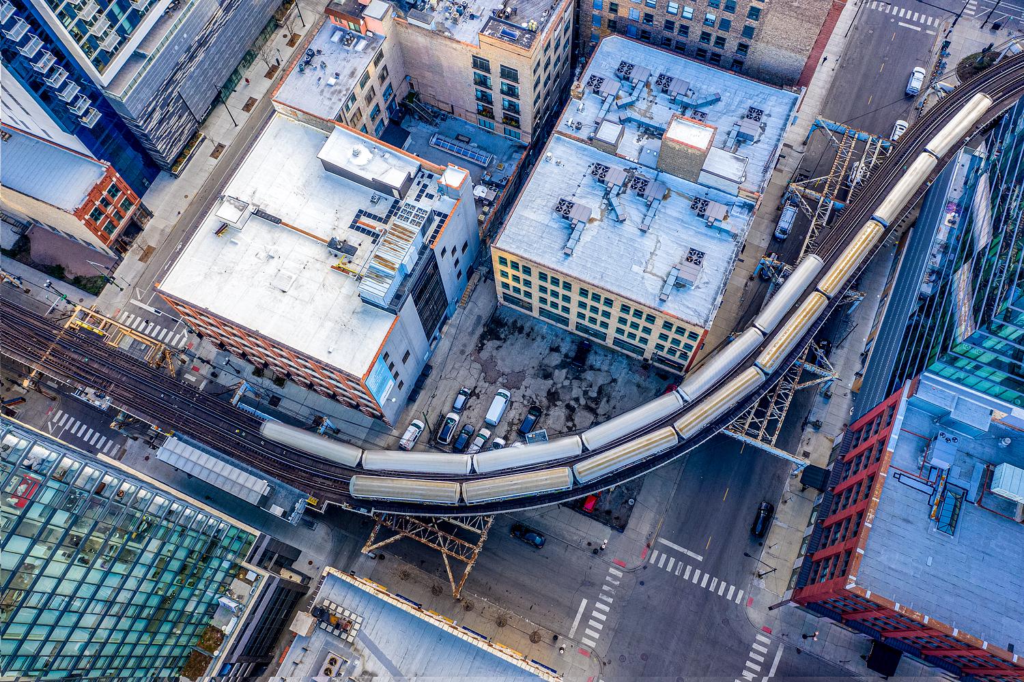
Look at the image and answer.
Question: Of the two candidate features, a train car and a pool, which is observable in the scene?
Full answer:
There is a train car in the scene.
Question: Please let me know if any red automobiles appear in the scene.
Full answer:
Yes, I can see a red automobile in this picture.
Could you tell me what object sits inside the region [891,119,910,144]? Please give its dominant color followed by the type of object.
white car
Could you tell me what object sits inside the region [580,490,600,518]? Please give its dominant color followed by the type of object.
red car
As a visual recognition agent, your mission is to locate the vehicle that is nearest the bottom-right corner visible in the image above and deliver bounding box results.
[751,502,773,537]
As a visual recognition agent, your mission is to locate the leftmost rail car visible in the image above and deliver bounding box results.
[266,421,366,472]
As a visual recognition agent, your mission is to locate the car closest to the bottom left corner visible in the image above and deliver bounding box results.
[399,419,423,451]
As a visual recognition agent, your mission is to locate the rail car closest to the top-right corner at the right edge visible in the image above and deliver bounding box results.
[919,101,991,170]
